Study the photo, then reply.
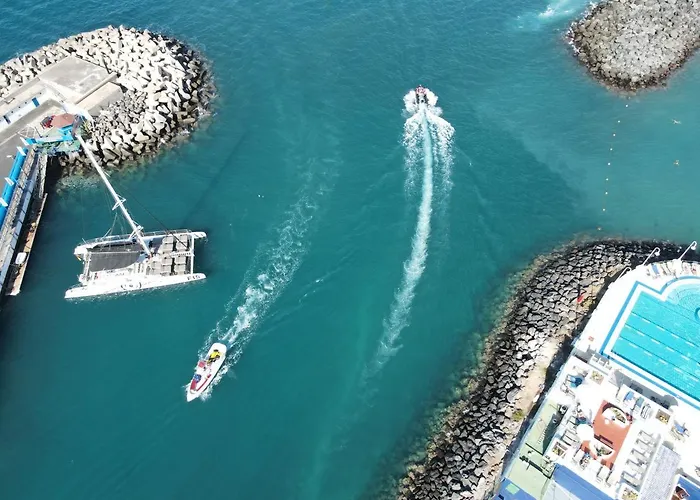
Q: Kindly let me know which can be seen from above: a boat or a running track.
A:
boat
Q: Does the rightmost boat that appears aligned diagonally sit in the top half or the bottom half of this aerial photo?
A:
bottom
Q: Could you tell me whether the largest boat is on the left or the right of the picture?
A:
left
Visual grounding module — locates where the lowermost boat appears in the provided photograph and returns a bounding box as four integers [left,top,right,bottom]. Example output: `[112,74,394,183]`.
[187,341,232,402]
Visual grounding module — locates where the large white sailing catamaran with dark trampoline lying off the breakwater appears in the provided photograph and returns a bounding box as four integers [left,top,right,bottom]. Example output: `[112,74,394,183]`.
[64,140,211,300]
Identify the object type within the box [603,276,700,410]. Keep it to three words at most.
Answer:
swimming pool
